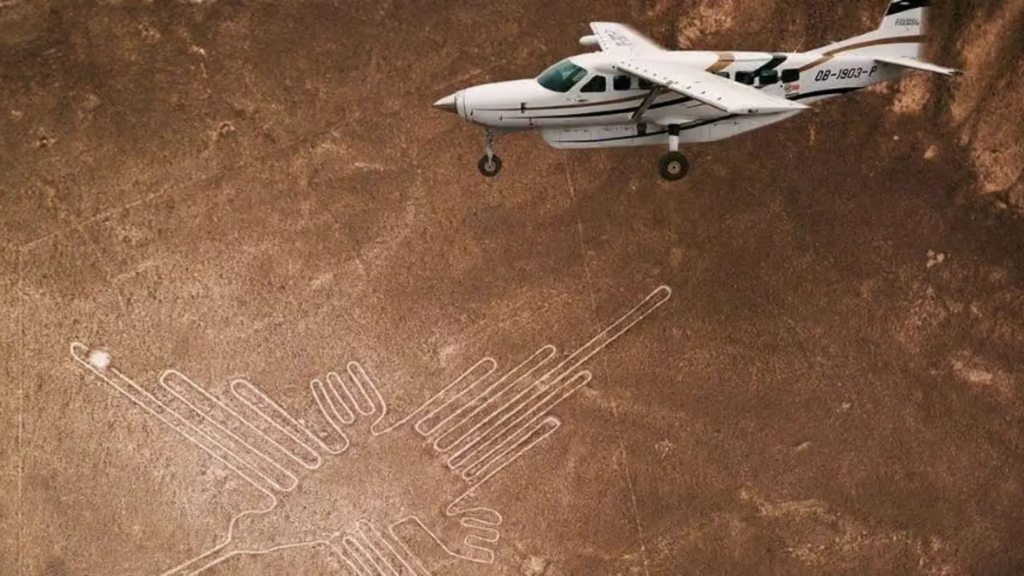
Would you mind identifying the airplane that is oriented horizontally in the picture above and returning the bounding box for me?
[433,0,963,179]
